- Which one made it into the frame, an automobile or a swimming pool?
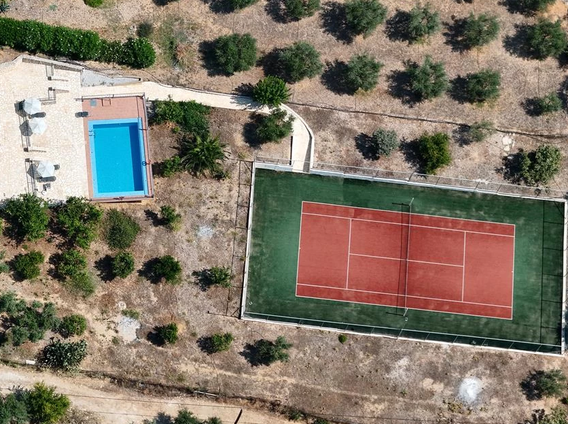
swimming pool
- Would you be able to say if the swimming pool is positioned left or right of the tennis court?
to its left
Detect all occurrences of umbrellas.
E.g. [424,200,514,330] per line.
[28,118,46,136]
[22,98,41,116]
[35,159,54,179]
